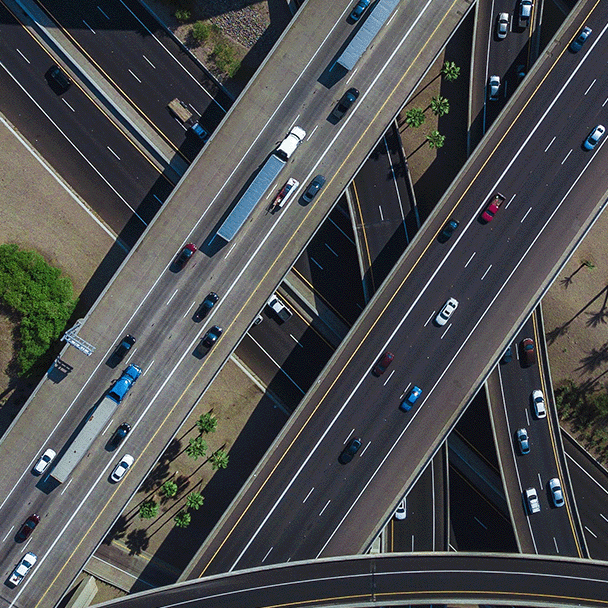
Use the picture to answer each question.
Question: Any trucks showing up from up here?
Yes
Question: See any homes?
No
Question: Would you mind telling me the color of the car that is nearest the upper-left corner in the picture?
black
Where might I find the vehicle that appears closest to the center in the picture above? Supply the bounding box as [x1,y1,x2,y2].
[268,292,296,323]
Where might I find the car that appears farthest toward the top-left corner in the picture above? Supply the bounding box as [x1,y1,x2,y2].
[44,61,73,92]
